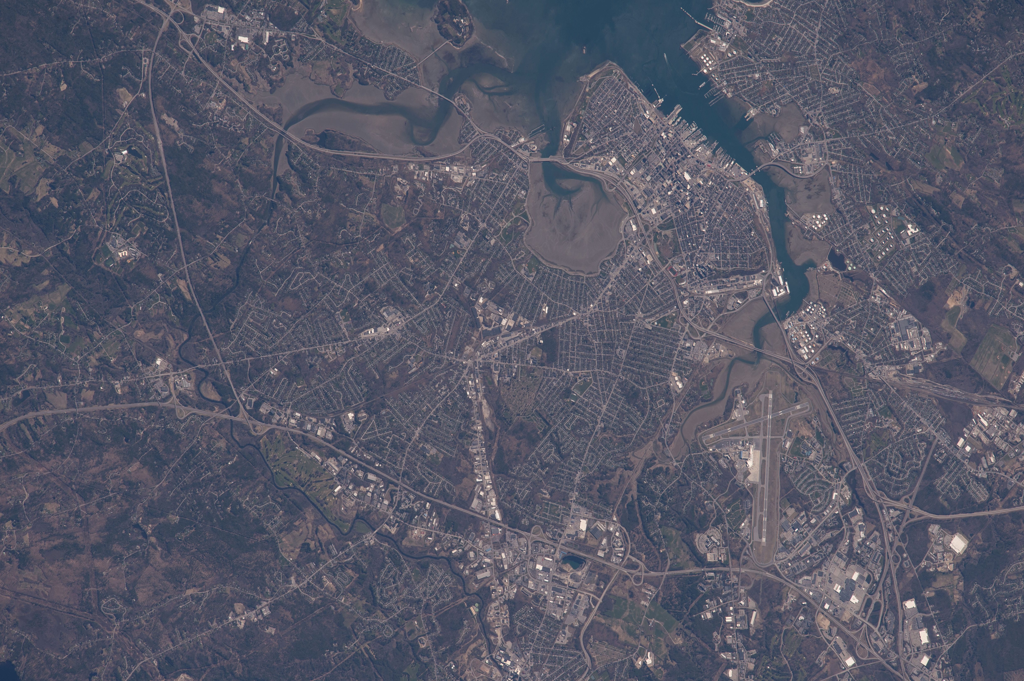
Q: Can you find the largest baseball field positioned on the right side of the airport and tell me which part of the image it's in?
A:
right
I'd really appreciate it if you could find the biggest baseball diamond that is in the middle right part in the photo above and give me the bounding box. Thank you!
[974,341,1017,385]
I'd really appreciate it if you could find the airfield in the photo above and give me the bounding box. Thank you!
[700,371,812,564]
